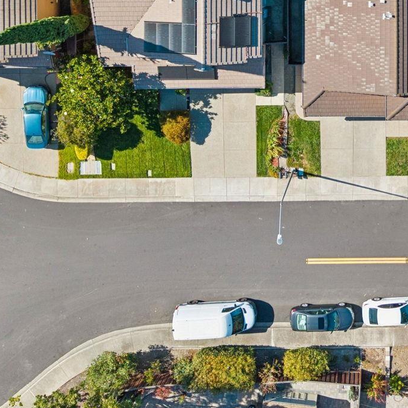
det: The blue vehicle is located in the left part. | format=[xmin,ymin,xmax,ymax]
[20,85,53,148]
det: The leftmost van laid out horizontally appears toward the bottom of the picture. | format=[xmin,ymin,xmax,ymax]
[171,296,258,339]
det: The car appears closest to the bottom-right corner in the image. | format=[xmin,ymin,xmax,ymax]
[363,294,408,324]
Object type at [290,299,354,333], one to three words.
car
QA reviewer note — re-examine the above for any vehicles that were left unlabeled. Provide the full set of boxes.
[20,85,53,148]
[363,294,408,324]
[171,296,258,339]
[290,299,354,333]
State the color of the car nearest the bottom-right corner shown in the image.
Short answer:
white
